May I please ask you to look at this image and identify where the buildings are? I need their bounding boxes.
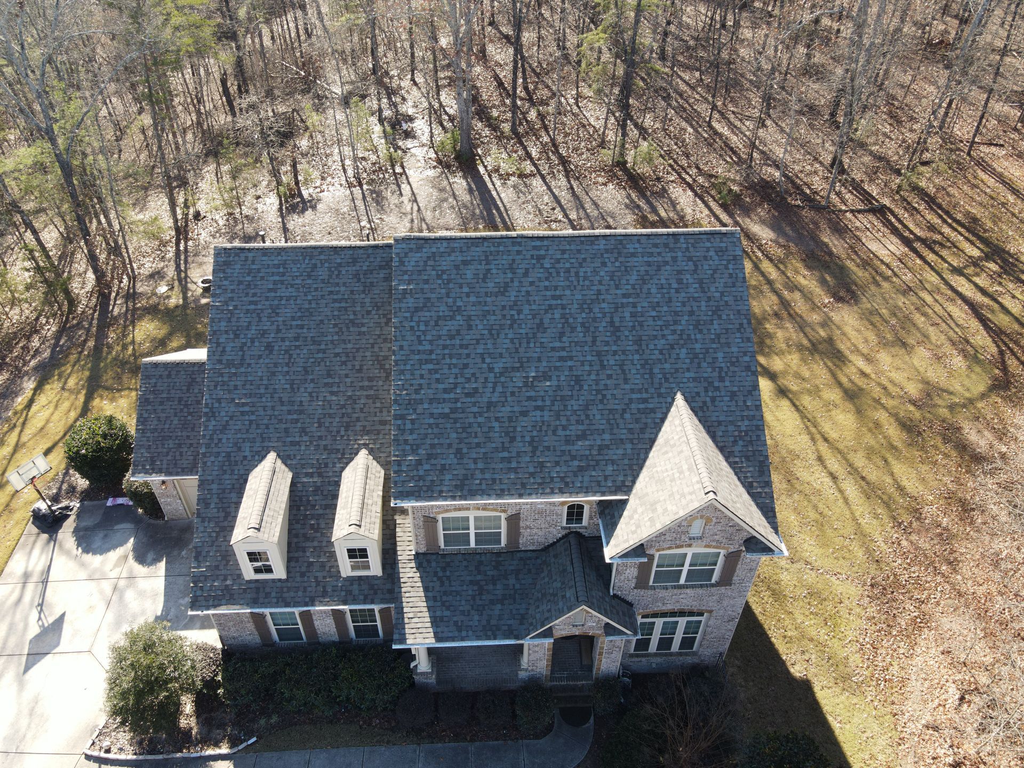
[133,226,793,718]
